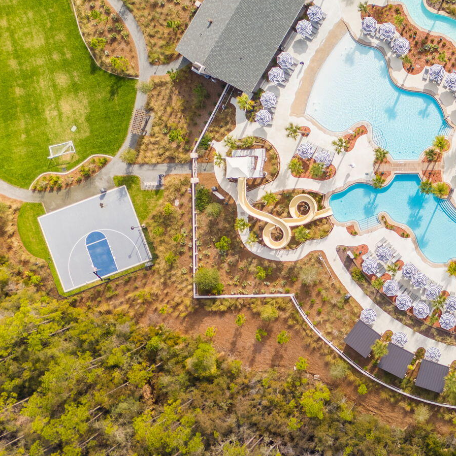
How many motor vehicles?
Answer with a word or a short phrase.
zero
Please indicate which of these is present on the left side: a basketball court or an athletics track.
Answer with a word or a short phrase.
basketball court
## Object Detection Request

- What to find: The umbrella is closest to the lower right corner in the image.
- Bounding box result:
[425,345,442,362]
